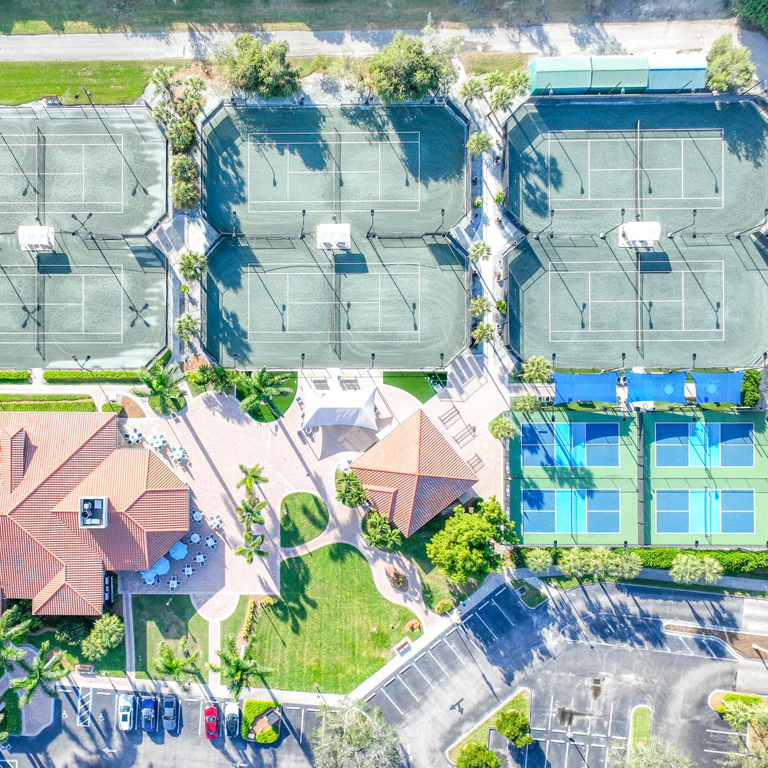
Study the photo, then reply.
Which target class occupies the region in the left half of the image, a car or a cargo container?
car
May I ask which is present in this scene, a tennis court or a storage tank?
tennis court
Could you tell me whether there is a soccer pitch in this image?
No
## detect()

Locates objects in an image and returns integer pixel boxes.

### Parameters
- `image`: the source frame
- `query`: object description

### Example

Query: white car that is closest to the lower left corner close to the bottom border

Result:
[118,694,133,730]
